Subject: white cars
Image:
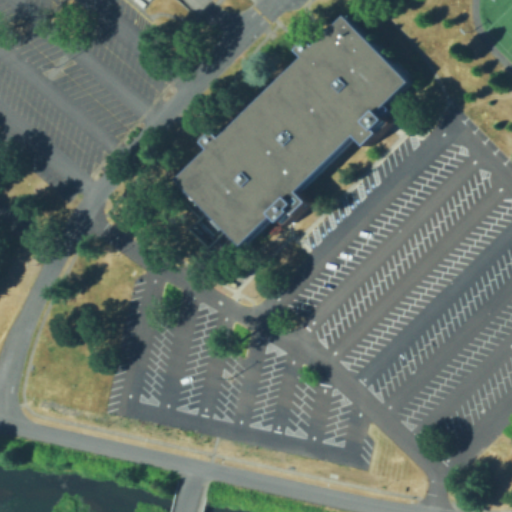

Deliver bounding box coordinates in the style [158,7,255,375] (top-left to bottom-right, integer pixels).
[324,263,338,272]
[338,252,353,260]
[180,377,194,386]
[358,232,373,240]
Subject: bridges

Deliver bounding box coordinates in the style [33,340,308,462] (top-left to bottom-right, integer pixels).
[172,474,211,512]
